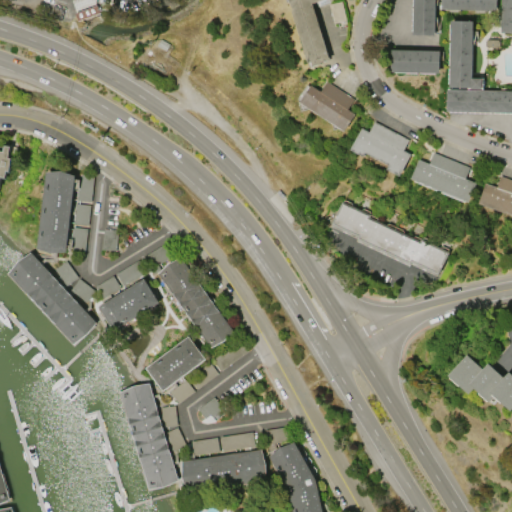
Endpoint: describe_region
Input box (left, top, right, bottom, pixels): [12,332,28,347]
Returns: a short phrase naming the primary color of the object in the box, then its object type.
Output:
white boat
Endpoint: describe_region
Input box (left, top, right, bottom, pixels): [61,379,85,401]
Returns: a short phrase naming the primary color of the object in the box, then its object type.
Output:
white boat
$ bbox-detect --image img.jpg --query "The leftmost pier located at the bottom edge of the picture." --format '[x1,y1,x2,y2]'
[6,390,46,512]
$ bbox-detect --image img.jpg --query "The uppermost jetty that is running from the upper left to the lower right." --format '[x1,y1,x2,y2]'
[0,298,72,389]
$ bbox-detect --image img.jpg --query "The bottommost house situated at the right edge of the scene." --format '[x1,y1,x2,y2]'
[449,356,512,411]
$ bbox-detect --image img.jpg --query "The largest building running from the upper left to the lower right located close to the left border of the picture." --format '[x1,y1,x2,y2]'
[8,253,96,346]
